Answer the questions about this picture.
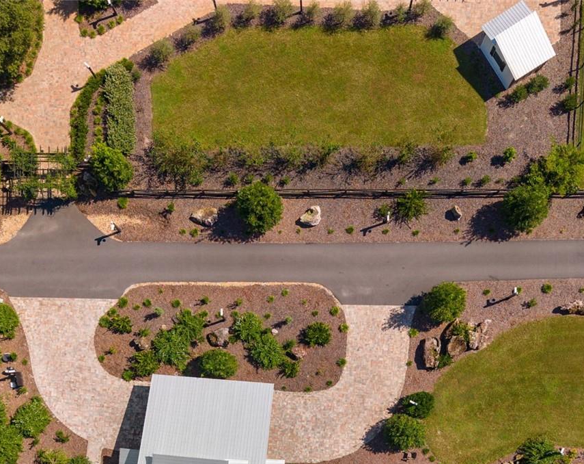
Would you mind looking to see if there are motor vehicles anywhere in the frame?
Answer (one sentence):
No, there isn't any motor vehicle down there.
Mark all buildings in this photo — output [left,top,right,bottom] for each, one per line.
[119,373,286,464]
[480,0,556,88]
